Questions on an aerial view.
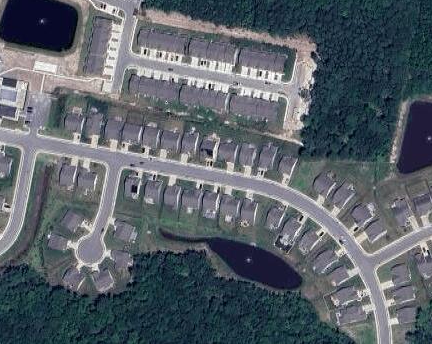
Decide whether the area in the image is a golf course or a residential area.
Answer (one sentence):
What you see here is a residential area.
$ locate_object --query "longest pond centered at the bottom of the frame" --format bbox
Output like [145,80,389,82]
[161,233,302,290]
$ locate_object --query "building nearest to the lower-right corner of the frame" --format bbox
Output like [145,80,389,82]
[398,304,421,322]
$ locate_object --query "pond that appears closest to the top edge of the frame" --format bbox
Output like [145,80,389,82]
[0,0,78,51]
